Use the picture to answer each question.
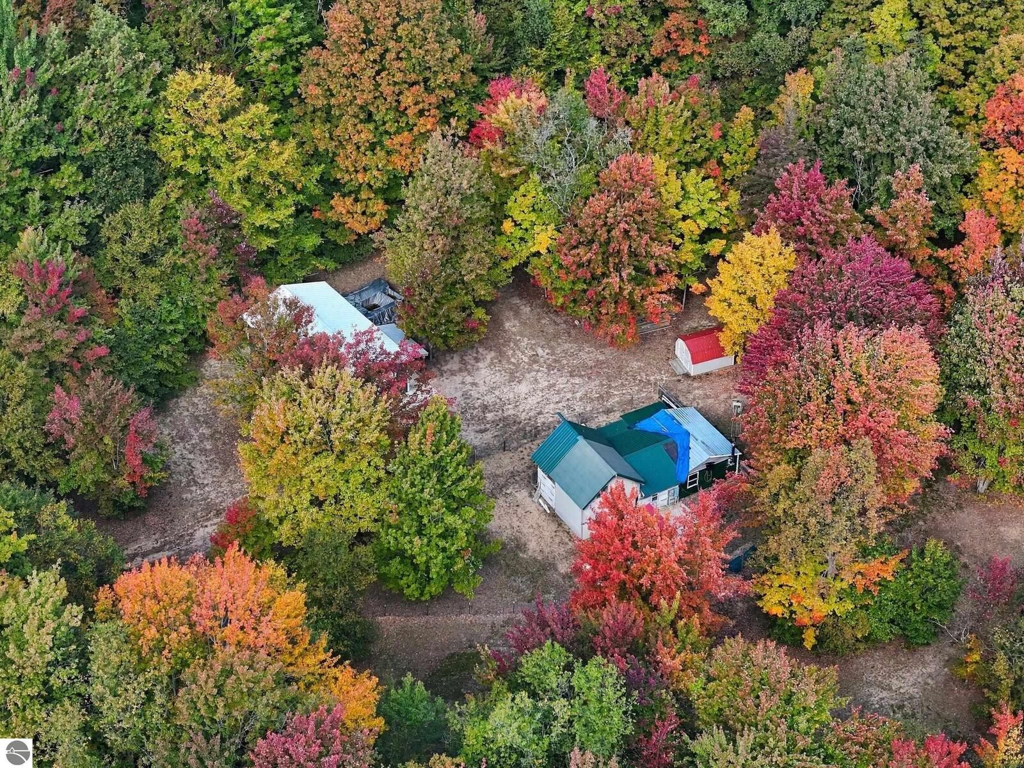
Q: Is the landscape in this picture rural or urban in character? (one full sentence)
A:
From above, the setting appears rural.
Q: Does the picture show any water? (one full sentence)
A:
No, the scene doesn't show any water.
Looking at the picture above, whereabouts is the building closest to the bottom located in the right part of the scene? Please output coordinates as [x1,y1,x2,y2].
[527,398,741,538]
